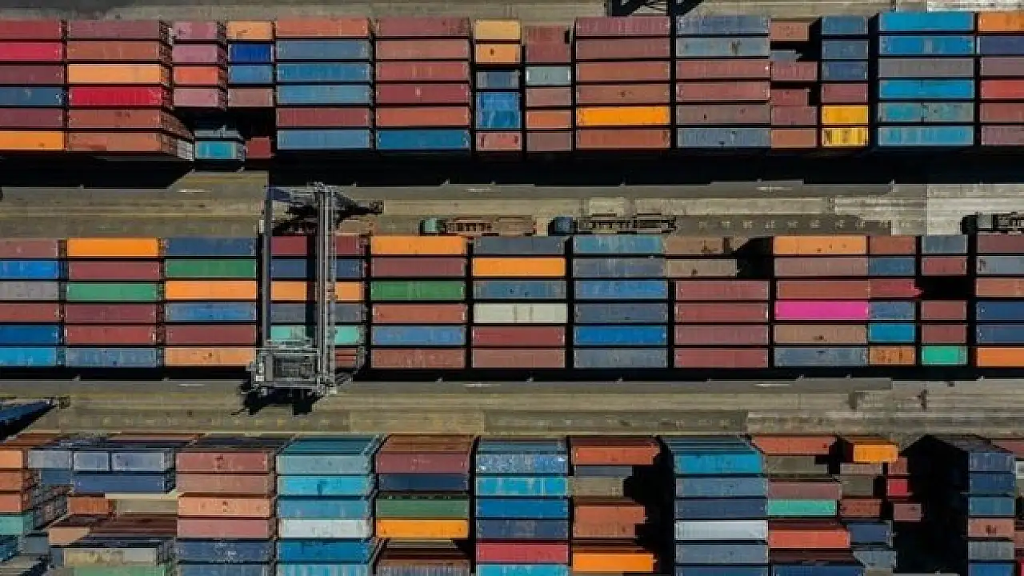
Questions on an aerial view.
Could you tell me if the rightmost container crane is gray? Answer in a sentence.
Yes, the rightmost container crane appears gray.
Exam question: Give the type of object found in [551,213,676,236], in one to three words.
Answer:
truck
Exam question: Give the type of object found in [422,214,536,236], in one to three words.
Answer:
truck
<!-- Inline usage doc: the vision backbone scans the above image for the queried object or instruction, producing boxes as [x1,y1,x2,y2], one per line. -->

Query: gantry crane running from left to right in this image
[0,396,70,421]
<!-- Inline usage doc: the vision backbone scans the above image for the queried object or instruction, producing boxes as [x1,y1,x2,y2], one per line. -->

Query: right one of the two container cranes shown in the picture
[252,183,386,399]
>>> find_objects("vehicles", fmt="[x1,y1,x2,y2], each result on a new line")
[974,212,1024,235]
[422,214,536,236]
[551,213,676,236]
